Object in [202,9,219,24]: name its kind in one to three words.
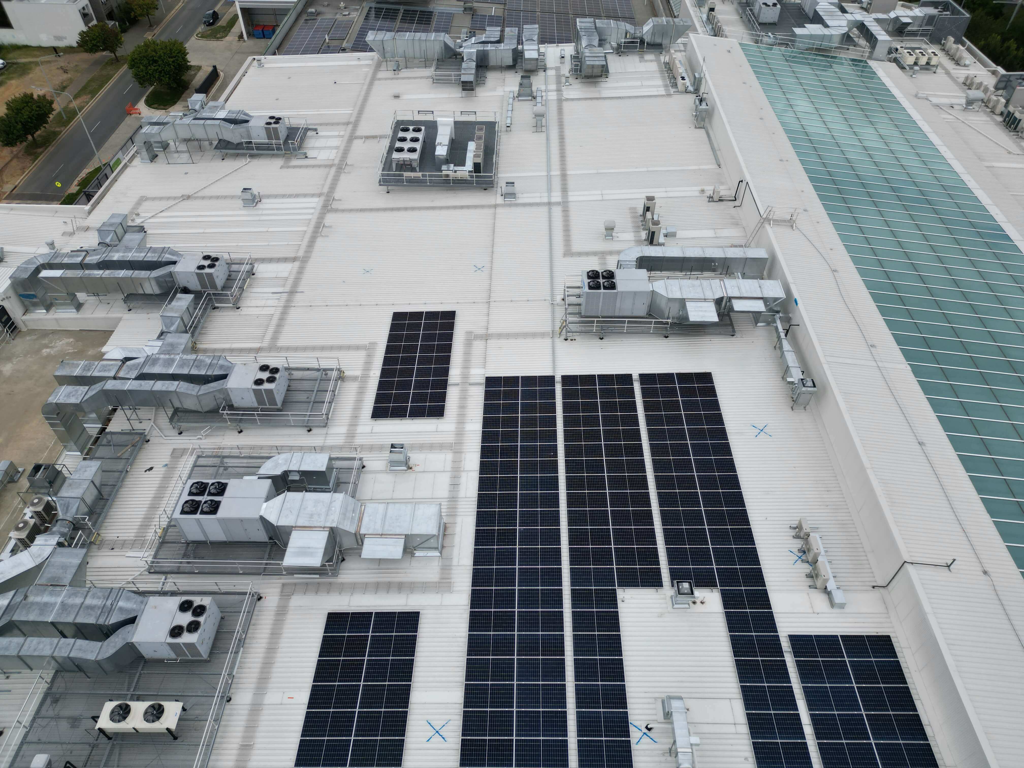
car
